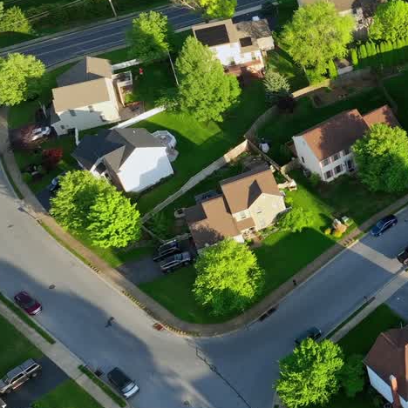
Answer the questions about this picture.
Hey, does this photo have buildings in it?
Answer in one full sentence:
Yes, there's a building here.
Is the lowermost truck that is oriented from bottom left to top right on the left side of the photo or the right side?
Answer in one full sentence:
It is on the left.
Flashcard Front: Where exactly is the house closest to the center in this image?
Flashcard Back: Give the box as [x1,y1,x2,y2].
[181,163,286,257]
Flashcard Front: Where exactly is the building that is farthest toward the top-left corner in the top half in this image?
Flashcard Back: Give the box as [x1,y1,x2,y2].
[40,57,135,140]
